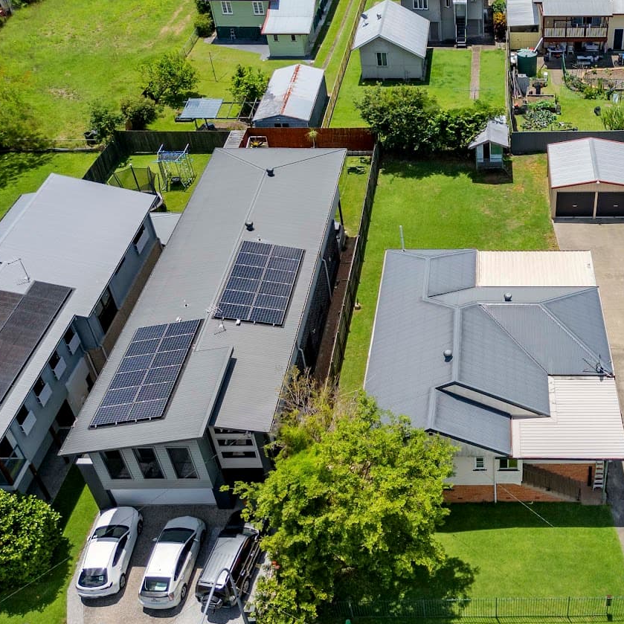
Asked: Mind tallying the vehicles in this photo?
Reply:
three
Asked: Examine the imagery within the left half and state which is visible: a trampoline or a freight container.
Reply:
trampoline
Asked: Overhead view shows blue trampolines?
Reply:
No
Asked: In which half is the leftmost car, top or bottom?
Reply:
bottom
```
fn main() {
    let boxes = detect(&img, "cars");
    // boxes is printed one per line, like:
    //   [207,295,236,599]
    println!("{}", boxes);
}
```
[137,515,209,608]
[199,501,275,602]
[73,504,149,596]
